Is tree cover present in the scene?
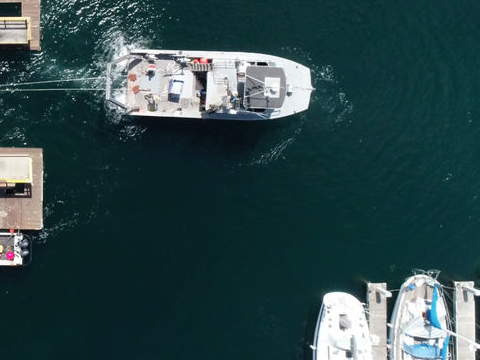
No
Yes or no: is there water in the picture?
Yes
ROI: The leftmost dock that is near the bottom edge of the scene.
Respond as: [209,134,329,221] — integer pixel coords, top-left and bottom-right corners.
[365,282,389,360]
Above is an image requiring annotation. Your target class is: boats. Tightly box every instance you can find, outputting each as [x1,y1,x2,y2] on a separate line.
[107,51,314,119]
[386,270,480,360]
[0,231,32,266]
[309,292,373,360]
